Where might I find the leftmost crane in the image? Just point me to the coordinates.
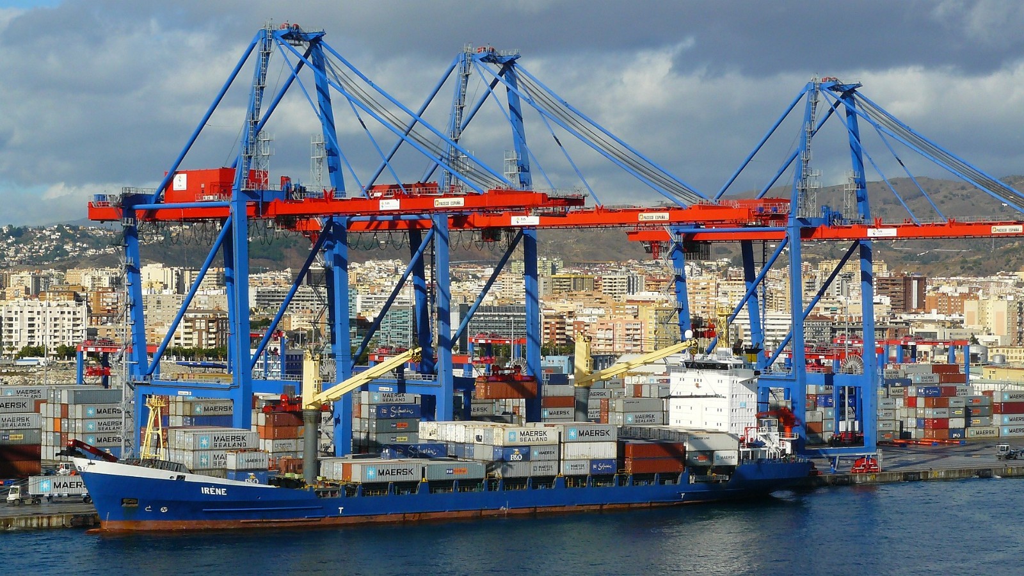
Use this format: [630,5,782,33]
[77,338,198,438]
